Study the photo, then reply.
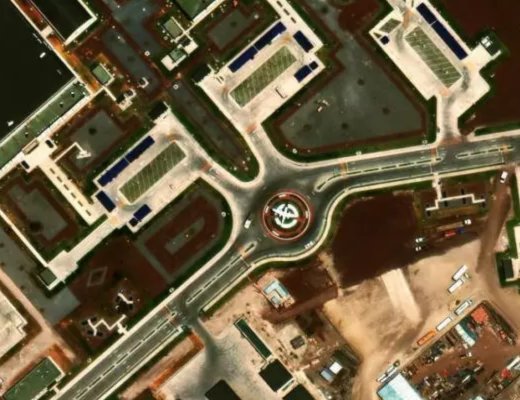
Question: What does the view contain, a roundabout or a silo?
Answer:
roundabout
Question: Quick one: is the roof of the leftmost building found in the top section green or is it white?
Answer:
green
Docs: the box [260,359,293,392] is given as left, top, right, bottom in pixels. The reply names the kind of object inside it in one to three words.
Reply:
building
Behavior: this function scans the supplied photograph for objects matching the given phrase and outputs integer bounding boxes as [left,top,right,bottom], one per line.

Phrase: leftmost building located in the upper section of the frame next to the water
[0,79,88,168]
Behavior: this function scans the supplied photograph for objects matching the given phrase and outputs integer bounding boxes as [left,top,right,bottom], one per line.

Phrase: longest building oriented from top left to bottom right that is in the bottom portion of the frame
[234,319,271,358]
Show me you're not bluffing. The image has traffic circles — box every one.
[261,190,312,242]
